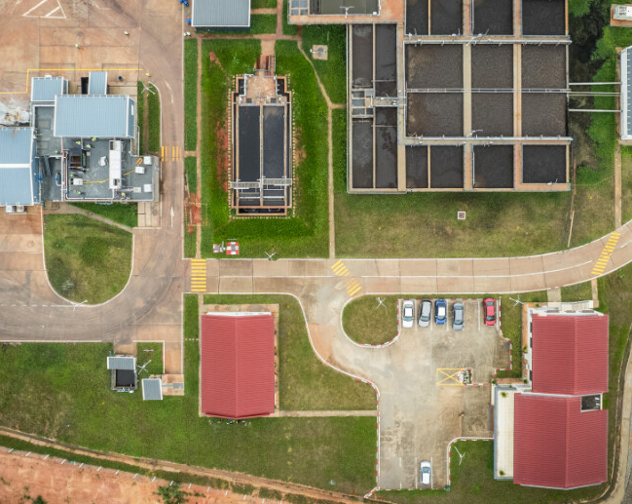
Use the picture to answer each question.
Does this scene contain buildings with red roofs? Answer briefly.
Yes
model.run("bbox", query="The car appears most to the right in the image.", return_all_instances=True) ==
[482,297,496,326]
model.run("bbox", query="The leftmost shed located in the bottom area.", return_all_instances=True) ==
[107,354,138,370]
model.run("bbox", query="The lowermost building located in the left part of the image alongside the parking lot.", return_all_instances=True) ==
[201,310,275,419]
